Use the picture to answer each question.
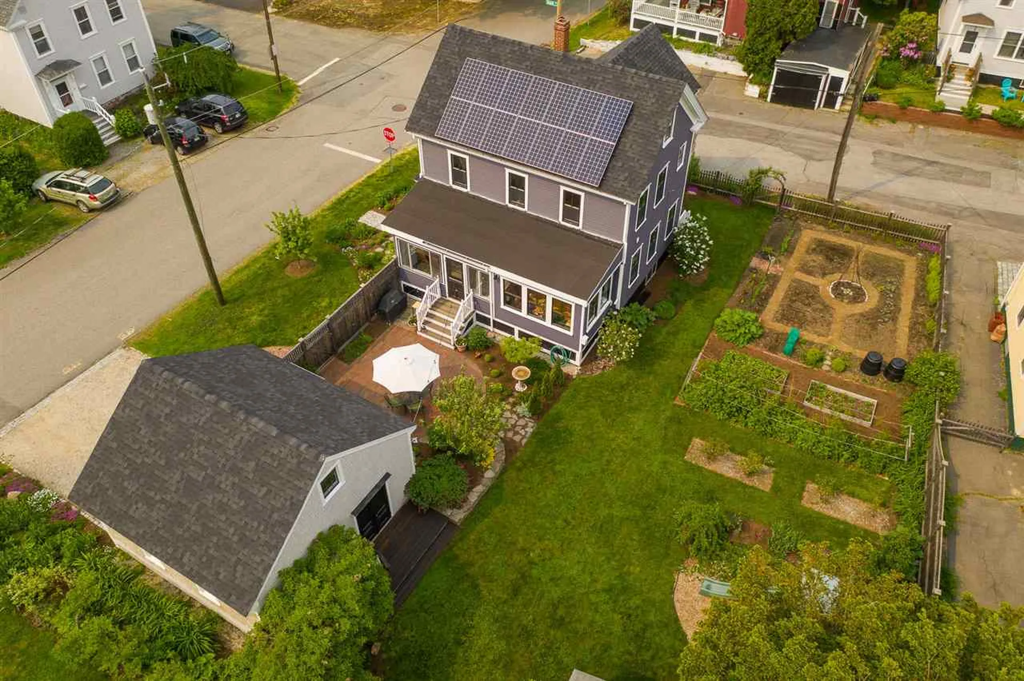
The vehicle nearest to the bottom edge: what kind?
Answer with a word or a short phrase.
car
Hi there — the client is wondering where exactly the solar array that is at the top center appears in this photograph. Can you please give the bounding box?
[435,55,633,184]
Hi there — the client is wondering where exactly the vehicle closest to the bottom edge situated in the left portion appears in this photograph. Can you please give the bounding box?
[22,161,122,213]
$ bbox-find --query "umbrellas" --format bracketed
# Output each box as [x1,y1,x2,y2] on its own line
[367,343,446,399]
